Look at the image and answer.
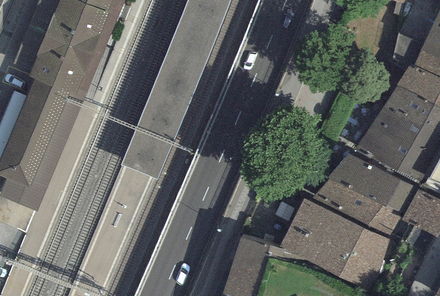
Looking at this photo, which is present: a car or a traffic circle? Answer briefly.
car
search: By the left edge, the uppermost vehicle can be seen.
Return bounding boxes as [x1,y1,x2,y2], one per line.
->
[4,72,26,88]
